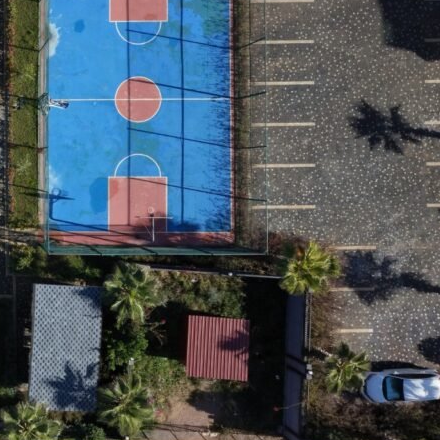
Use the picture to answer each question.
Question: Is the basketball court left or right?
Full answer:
The basketball court is on the left side of the image.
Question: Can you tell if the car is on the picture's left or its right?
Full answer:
You can find the car on the right side of the picture.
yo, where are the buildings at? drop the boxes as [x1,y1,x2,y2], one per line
[179,312,249,381]
[26,278,101,413]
